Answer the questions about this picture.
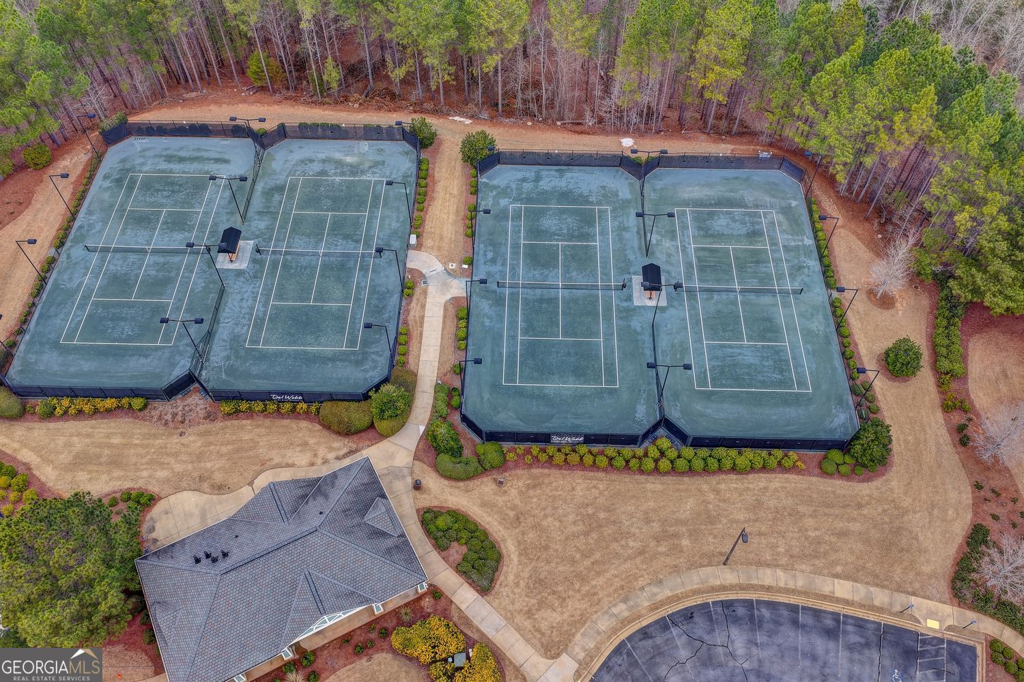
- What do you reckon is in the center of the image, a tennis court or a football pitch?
tennis court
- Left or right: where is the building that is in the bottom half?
left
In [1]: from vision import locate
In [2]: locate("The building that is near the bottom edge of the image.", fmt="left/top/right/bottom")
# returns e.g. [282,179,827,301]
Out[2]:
[136,456,432,682]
